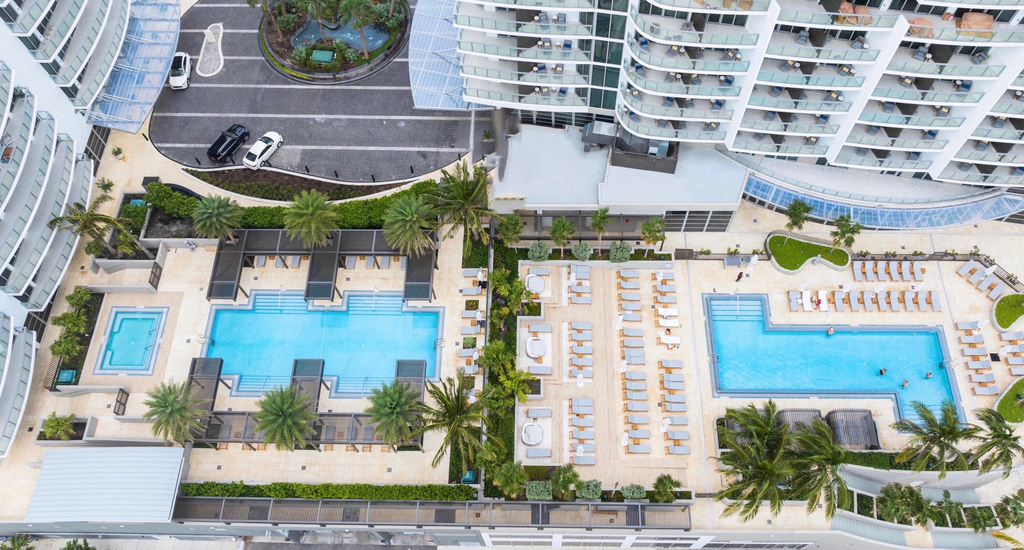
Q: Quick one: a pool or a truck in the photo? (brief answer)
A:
pool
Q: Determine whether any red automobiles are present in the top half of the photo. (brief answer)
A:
No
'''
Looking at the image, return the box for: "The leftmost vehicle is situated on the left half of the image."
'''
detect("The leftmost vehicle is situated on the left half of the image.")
[167,52,194,91]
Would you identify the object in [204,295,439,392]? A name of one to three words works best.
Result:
swimming pool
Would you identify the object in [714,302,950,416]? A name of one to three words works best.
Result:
swimming pool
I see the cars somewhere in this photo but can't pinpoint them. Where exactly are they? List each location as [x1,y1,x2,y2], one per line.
[167,52,194,91]
[238,132,281,170]
[207,126,246,162]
